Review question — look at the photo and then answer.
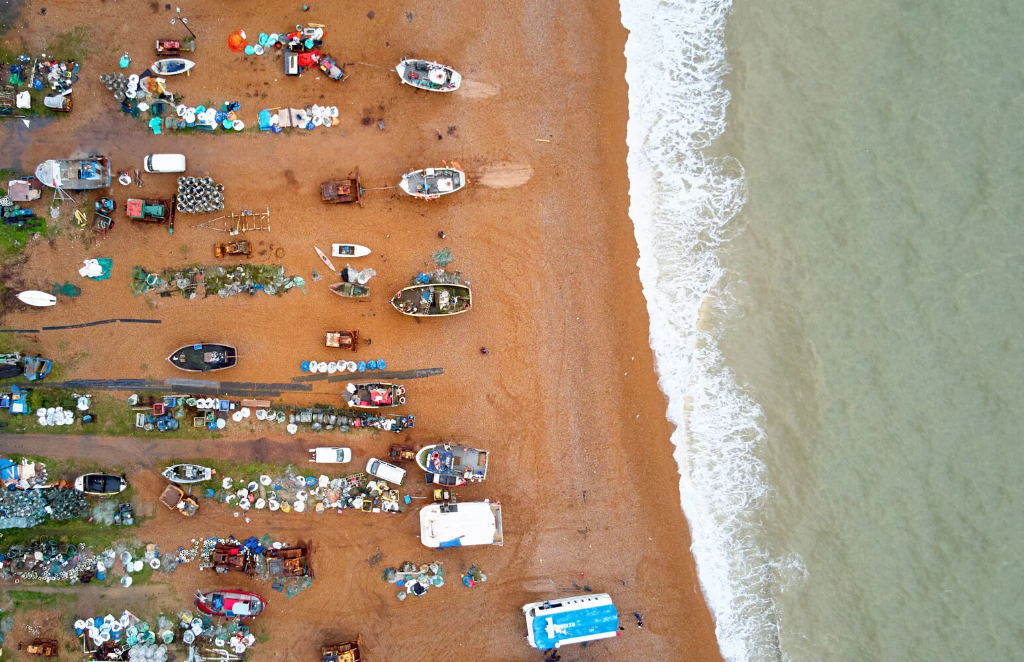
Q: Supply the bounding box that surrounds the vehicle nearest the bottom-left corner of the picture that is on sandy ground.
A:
[22,637,60,656]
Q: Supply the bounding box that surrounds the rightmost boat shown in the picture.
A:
[522,591,622,650]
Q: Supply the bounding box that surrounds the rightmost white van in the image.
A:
[367,456,409,486]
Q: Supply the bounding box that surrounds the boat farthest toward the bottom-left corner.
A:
[74,474,129,495]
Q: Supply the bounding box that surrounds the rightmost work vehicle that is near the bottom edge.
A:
[321,631,364,662]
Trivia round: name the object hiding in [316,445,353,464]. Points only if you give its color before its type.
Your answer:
white vehicle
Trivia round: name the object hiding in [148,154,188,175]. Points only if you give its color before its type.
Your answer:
white vehicle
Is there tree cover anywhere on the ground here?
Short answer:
No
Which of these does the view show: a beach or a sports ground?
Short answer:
beach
